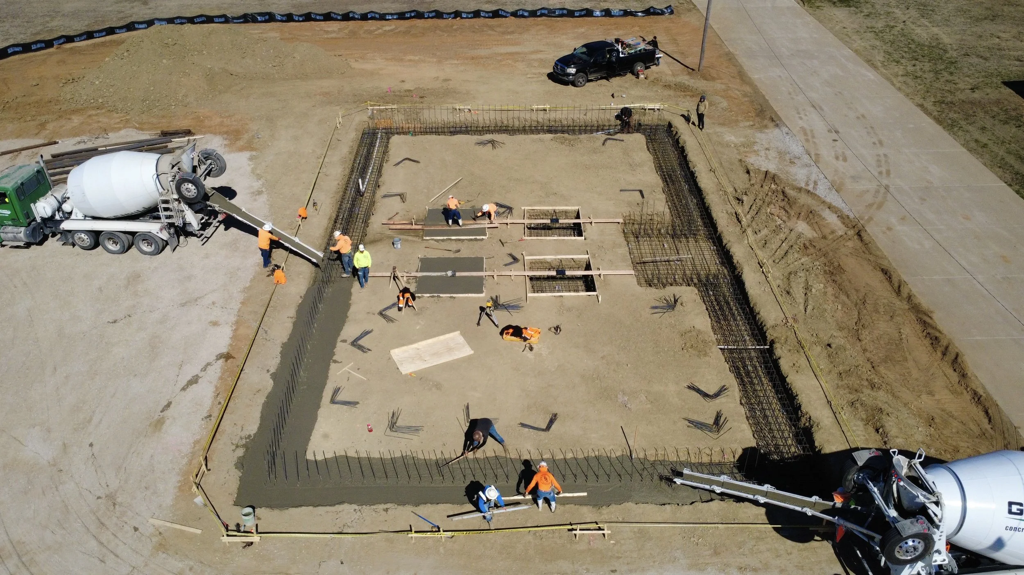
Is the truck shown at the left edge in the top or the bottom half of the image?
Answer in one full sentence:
The top half of the photo is where the truck shown at the left edge is.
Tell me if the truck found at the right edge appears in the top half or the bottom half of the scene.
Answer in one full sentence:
Seen from above, the truck found at the right edge lies in the bottom half of the view.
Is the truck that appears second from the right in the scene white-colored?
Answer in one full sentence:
No, from above the truck that appears second from the right looks black.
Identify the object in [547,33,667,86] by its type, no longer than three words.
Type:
truck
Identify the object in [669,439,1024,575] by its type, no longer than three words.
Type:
truck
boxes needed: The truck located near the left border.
[0,134,326,267]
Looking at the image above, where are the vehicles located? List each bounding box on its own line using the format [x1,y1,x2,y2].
[0,134,326,267]
[669,439,1024,575]
[547,33,667,86]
